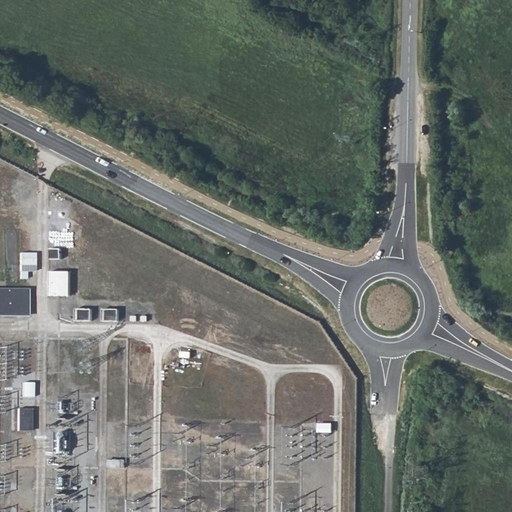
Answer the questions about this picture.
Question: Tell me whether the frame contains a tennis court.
No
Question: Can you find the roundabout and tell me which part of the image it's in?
right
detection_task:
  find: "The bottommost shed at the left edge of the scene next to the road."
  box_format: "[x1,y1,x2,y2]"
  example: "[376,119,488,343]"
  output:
[17,408,35,431]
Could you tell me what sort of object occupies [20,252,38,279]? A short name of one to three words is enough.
house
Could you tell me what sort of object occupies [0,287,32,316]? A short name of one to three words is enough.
building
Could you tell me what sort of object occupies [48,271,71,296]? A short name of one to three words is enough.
building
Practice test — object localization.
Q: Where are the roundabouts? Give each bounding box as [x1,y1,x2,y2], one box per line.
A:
[284,183,512,386]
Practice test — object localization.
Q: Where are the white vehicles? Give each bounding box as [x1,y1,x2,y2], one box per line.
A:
[36,126,48,136]
[372,393,378,406]
[95,156,109,166]
[374,250,384,261]
[468,338,480,347]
